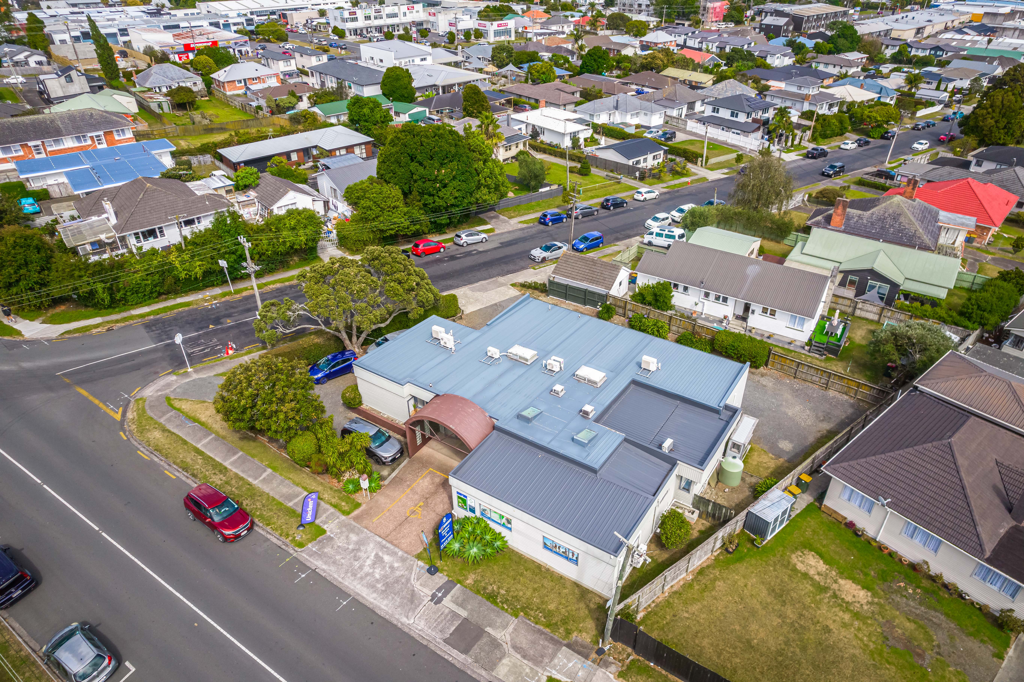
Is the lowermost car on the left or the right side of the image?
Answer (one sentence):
The lowermost car sits on the left side.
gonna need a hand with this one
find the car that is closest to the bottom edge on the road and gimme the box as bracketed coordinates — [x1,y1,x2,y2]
[42,624,121,682]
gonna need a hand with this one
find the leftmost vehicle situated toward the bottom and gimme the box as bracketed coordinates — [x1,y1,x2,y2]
[0,547,34,611]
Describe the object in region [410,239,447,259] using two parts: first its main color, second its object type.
red car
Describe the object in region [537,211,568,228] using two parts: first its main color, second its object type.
blue car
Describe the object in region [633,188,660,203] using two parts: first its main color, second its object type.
white car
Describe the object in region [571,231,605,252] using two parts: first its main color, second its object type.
blue car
